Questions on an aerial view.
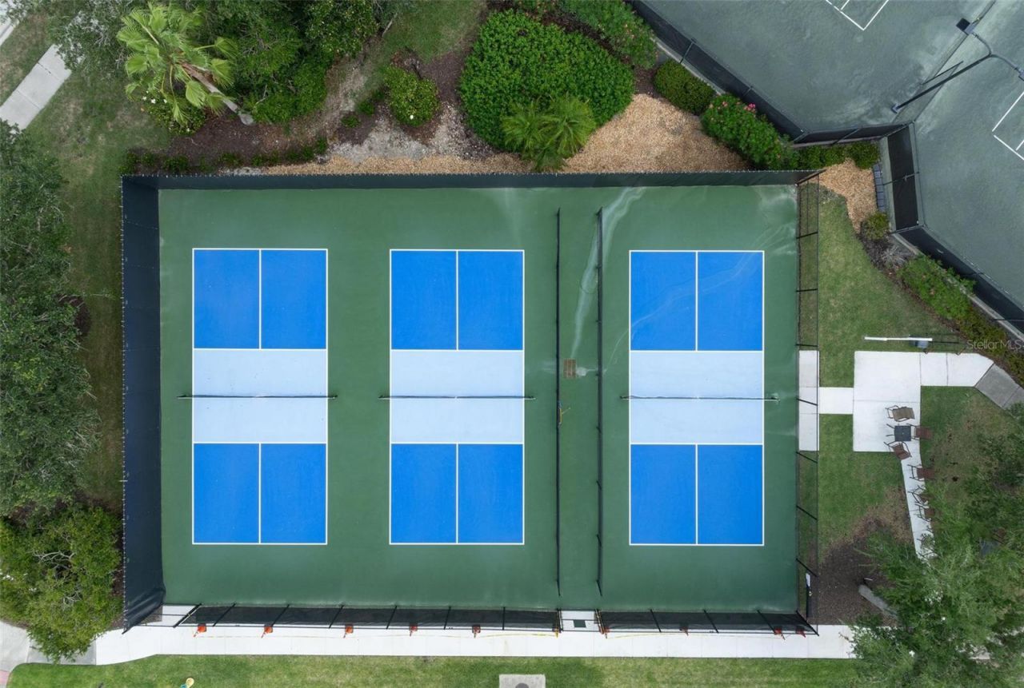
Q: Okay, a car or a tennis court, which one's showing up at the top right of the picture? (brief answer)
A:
tennis court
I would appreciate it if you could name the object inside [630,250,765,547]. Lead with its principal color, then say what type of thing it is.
blue sports court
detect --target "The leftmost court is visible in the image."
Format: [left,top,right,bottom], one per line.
[192,248,327,546]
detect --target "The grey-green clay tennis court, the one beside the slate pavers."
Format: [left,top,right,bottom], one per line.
[880,0,1024,337]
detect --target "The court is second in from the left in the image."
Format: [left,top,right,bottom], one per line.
[389,249,525,546]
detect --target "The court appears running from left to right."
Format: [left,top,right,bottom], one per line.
[607,0,991,146]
